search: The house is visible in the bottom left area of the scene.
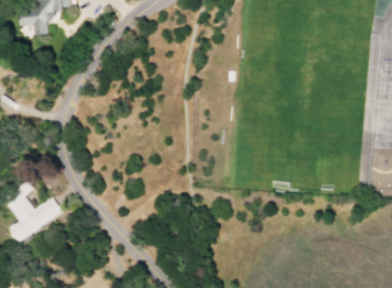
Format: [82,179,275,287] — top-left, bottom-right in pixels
[8,184,61,241]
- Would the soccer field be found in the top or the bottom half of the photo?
top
